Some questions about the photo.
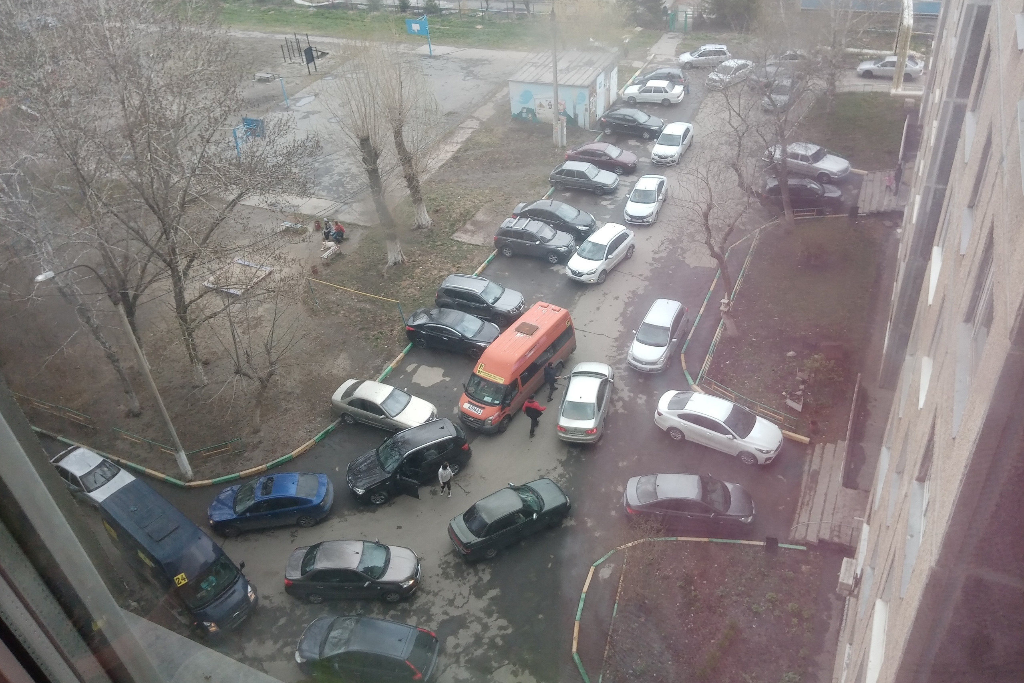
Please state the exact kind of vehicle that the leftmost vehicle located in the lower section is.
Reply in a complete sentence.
I'd identify the leftmost vehicle located in the lower section as a car.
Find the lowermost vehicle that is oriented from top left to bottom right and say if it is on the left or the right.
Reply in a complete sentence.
The lowermost vehicle that is oriented from top left to bottom right appears in the left half of the scene.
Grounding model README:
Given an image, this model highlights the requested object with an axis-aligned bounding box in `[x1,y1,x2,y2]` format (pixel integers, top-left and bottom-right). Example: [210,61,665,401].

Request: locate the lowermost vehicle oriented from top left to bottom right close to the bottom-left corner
[102,483,255,639]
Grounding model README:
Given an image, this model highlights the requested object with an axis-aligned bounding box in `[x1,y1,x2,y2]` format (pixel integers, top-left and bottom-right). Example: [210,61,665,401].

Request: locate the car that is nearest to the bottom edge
[292,612,448,683]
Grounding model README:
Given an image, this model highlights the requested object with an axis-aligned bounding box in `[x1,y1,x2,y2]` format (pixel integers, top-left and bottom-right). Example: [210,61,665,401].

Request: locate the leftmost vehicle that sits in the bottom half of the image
[45,445,144,520]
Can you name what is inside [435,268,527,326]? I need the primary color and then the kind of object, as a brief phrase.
gray car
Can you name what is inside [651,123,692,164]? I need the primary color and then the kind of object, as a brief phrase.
white car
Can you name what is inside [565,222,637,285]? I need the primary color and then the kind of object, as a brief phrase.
white car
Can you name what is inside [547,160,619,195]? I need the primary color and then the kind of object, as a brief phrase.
gray car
